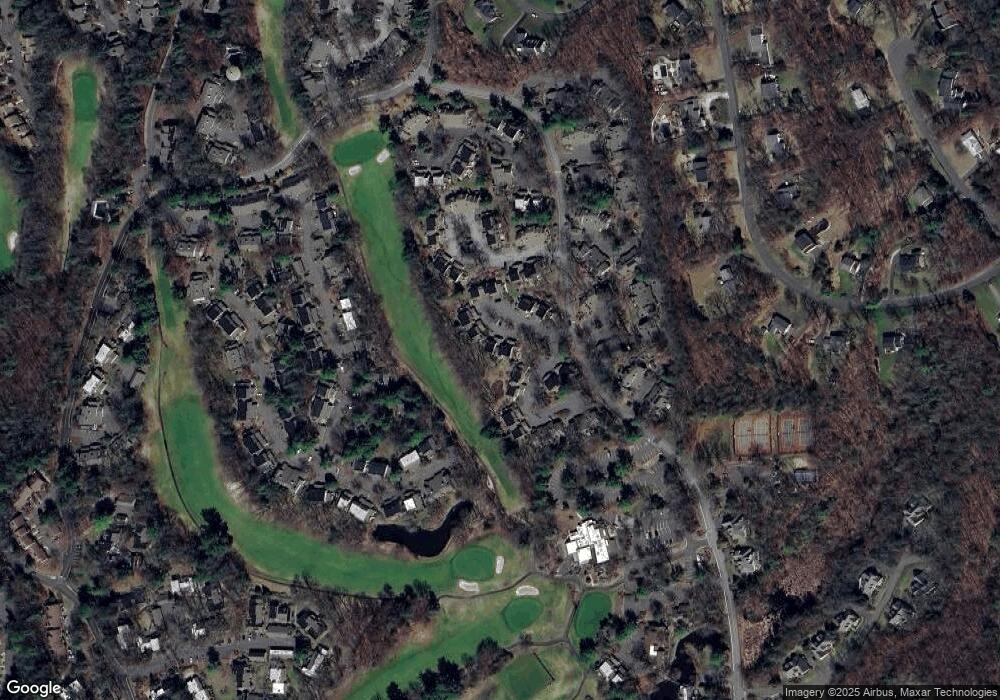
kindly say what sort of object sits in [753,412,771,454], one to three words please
tennis court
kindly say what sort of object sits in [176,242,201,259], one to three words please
house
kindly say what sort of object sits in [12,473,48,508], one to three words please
house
